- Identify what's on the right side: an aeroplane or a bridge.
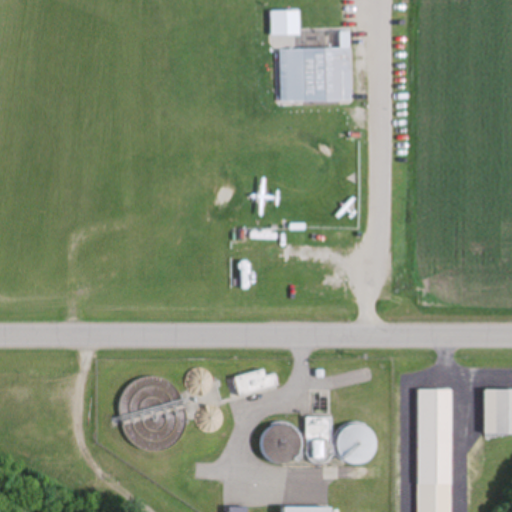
aeroplane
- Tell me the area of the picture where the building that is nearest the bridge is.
bottom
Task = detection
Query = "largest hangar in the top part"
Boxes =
[280,46,352,102]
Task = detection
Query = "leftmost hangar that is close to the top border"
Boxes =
[270,8,301,35]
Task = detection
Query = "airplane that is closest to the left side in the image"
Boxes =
[250,176,280,216]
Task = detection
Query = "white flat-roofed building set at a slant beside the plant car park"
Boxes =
[234,369,280,396]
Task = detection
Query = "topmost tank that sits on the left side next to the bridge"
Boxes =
[184,367,213,396]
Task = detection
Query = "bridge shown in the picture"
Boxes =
[110,400,189,430]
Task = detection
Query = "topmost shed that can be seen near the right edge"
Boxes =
[483,389,512,436]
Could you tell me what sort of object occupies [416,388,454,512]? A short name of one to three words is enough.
shed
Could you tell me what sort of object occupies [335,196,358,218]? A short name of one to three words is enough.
airplane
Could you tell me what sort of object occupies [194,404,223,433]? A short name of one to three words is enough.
storage tank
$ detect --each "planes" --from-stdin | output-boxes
[335,196,358,218]
[250,176,280,216]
